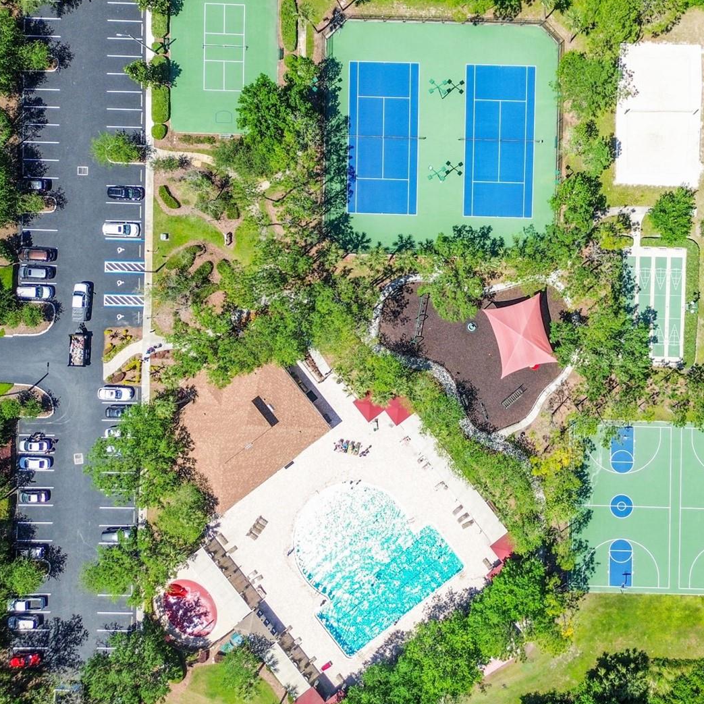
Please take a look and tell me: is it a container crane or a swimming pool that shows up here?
swimming pool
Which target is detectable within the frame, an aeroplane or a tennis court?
tennis court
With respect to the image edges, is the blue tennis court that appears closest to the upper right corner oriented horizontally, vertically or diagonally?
vertically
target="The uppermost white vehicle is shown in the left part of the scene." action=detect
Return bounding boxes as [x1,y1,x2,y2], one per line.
[100,221,137,237]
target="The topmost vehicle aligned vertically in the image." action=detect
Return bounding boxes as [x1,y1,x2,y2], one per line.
[70,285,89,324]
